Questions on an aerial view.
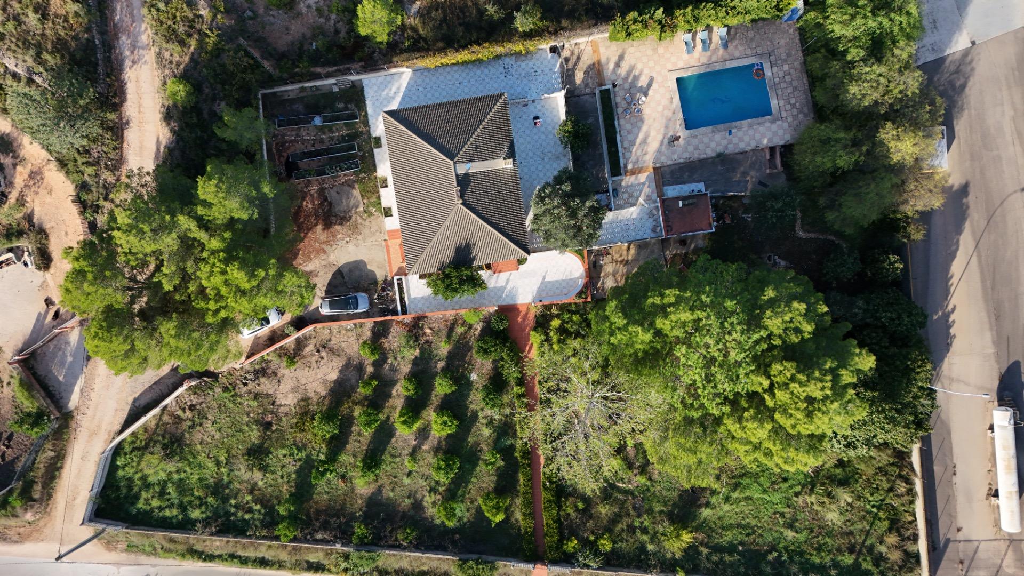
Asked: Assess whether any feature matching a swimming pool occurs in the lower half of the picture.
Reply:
No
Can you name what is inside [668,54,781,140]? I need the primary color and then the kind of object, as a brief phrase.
blue swimming pool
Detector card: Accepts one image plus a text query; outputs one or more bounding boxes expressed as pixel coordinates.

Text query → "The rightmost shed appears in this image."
[924,126,949,173]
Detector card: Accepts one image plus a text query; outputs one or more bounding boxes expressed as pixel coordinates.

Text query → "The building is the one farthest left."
[381,91,531,276]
